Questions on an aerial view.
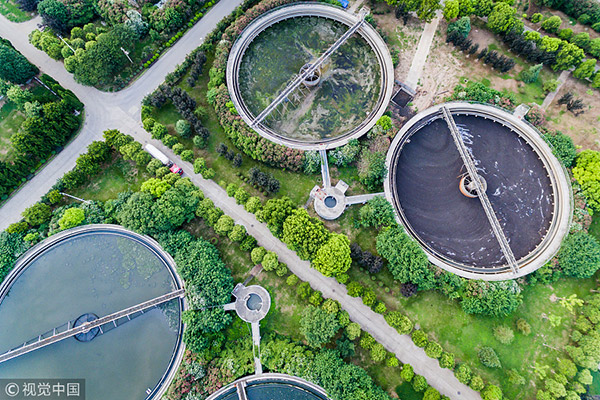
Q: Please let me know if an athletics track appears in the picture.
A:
No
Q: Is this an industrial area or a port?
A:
industrial area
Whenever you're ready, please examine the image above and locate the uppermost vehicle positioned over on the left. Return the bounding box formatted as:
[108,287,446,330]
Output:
[146,145,188,177]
